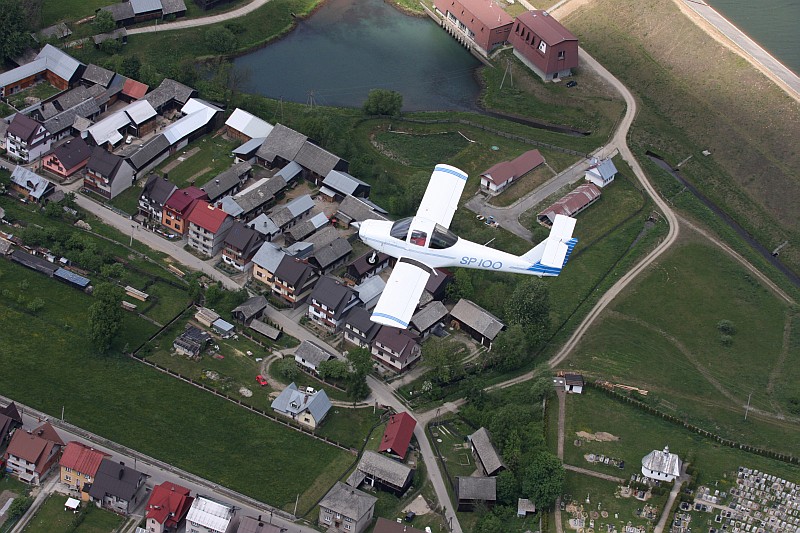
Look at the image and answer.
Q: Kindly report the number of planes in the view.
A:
1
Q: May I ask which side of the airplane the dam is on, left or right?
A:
on the right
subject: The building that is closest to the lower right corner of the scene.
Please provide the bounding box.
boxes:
[640,441,684,485]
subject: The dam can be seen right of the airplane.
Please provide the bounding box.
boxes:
[587,0,800,248]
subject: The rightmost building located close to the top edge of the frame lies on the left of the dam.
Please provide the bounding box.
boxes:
[511,10,577,80]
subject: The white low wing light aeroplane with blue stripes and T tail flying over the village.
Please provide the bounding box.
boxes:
[351,168,580,328]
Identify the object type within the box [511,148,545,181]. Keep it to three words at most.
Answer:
building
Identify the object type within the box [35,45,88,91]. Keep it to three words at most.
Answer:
barn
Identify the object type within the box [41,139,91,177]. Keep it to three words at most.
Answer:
house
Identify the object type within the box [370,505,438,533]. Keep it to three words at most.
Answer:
shed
